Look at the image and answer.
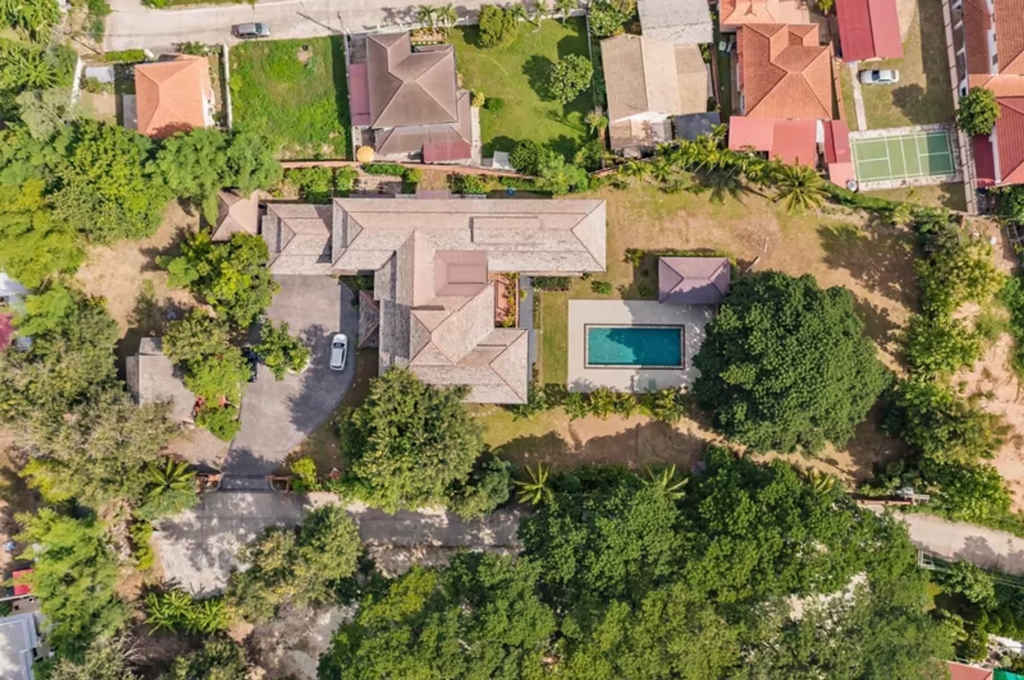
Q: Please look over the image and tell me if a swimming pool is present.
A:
Yes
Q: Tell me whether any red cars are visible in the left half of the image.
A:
No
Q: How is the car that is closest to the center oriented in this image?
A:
vertically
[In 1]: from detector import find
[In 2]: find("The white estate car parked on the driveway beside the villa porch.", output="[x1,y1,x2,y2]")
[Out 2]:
[328,334,348,371]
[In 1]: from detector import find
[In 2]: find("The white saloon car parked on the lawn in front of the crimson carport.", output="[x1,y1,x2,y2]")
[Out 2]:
[859,67,899,86]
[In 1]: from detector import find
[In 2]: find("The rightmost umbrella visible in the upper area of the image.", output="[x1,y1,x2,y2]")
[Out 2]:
[357,145,375,163]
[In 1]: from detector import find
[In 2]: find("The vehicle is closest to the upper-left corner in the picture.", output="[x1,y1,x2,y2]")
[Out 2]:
[232,19,270,39]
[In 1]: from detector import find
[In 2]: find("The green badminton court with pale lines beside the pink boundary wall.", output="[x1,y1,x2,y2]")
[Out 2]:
[852,131,956,182]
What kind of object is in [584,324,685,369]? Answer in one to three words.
swimming pool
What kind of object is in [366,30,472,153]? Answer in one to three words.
house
